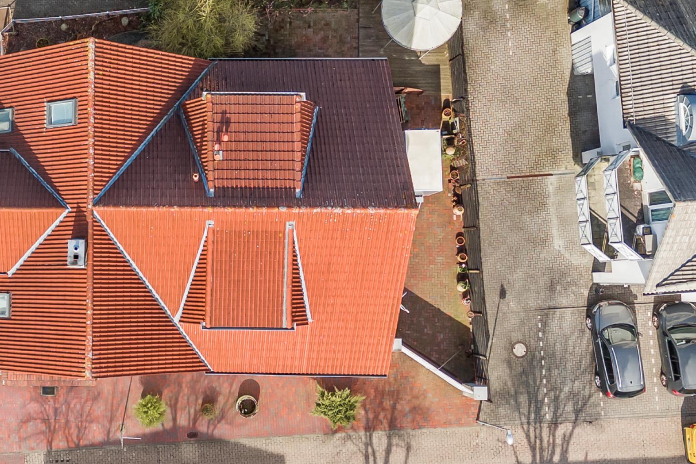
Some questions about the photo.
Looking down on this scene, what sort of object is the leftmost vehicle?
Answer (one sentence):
What you see as the leftmost vehicle is a car.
